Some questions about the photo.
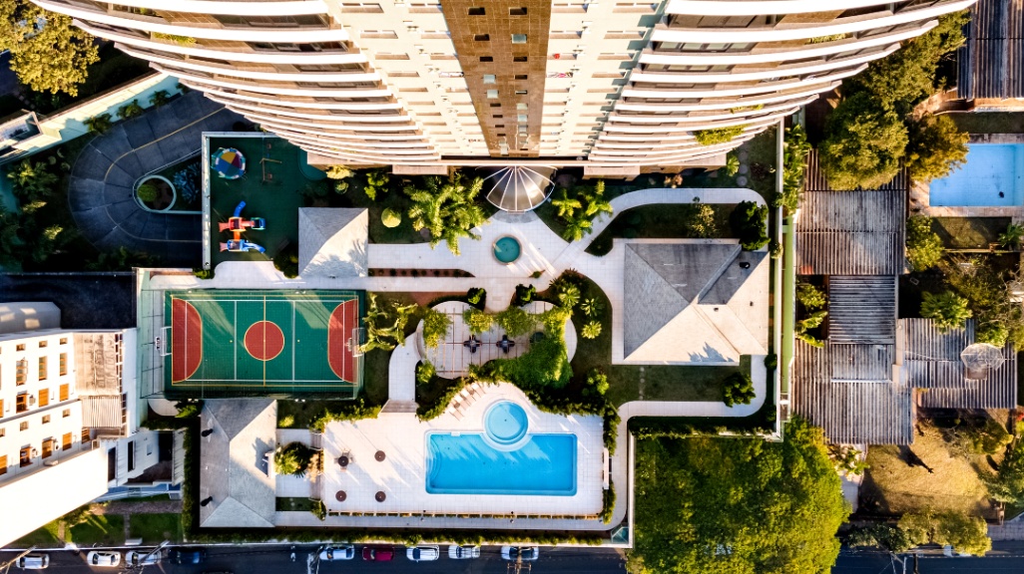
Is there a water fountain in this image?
Yes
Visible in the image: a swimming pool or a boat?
swimming pool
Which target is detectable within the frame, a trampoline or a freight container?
trampoline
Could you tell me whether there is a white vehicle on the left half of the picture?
Yes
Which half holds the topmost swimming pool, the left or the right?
right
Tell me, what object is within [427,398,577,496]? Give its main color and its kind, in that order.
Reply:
blue swimming pool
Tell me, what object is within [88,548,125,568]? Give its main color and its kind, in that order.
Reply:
white car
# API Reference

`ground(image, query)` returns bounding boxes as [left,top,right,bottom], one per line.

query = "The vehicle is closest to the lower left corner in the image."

[18,551,54,571]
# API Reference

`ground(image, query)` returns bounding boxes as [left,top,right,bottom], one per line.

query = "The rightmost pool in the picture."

[931,142,1024,206]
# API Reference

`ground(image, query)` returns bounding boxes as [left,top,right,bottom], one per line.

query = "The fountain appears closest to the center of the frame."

[492,234,522,264]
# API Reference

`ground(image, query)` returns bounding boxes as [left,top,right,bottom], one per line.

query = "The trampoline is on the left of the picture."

[212,146,250,180]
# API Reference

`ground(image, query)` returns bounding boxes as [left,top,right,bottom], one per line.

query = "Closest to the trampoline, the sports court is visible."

[164,289,364,399]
